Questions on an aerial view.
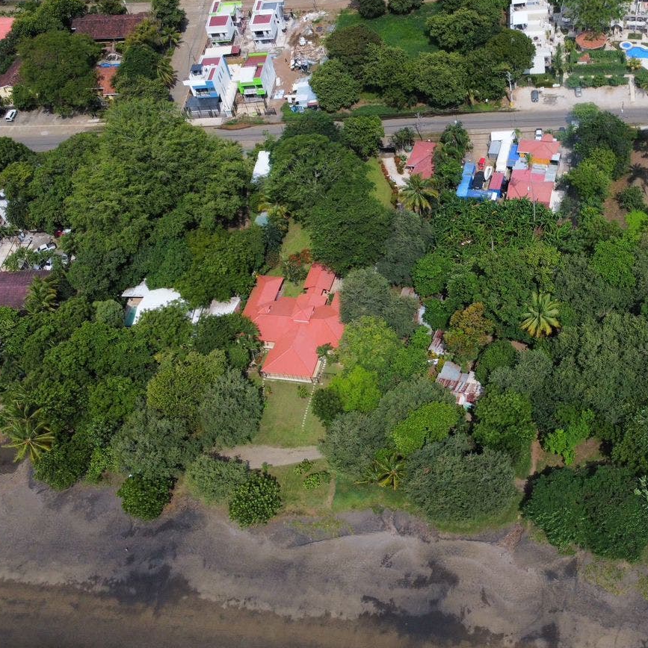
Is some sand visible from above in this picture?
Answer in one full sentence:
Yes, there's sand in this view.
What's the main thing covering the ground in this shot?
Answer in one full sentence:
For the most part, this view shows trees.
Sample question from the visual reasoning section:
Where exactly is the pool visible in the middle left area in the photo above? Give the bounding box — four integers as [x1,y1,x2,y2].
[125,302,139,322]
